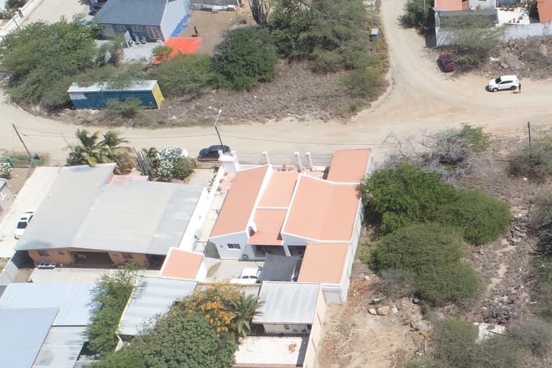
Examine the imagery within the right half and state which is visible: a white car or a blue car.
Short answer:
white car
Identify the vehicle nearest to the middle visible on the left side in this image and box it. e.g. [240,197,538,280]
[195,142,233,161]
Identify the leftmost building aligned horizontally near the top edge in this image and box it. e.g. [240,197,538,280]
[94,0,190,42]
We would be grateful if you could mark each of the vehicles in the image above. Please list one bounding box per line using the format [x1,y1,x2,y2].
[219,267,271,288]
[486,74,519,93]
[9,212,37,241]
[195,142,233,161]
[438,53,456,74]
[86,0,104,15]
